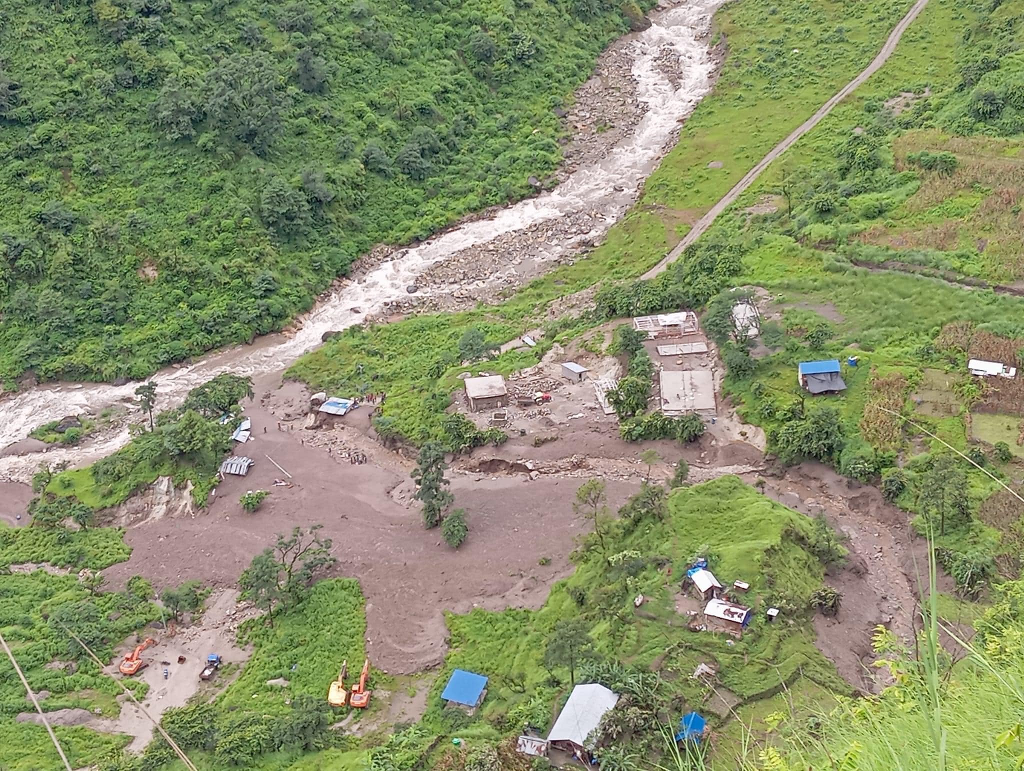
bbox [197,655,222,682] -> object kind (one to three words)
truck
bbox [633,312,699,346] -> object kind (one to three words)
building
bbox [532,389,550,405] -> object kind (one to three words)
work vehicle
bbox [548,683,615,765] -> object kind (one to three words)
house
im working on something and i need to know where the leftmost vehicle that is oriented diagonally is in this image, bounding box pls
[118,638,154,678]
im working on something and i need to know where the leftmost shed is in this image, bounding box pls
[321,395,352,419]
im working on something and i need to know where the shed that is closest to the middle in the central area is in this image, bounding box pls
[465,375,508,411]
